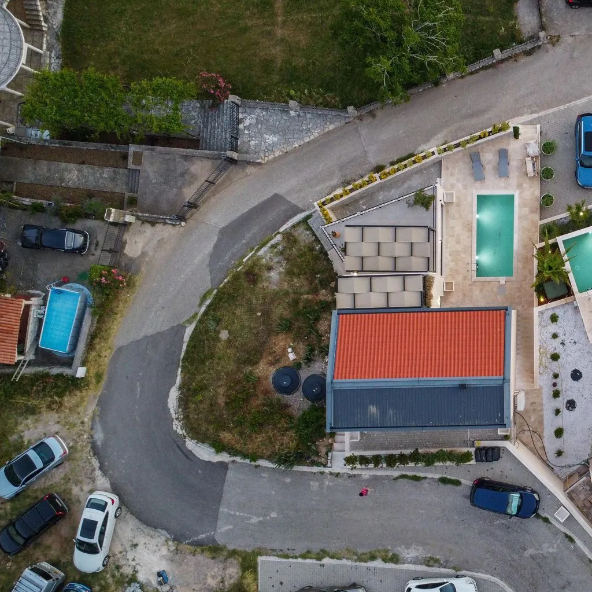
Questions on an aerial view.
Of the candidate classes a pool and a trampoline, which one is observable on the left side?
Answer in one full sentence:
The one visible on the left side is a pool.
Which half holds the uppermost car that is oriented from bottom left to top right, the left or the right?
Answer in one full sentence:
The uppermost car that is oriented from bottom left to top right appears in the left half of the scene.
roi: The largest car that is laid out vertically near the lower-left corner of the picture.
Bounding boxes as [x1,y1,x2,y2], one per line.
[74,490,125,571]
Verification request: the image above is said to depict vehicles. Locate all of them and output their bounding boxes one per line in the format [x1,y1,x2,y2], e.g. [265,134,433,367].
[572,113,592,190]
[20,221,98,257]
[14,559,68,592]
[404,572,479,592]
[301,582,370,592]
[469,479,541,522]
[564,0,592,10]
[0,435,74,493]
[74,490,125,571]
[0,492,73,553]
